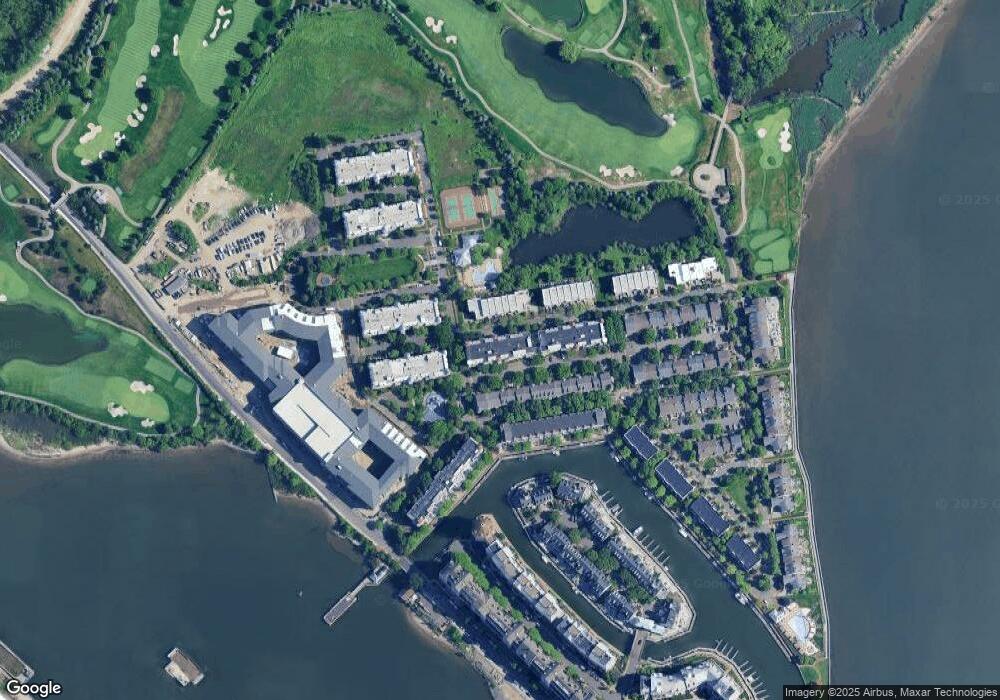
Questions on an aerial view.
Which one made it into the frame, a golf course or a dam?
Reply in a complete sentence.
Of the two, only a golf course appears.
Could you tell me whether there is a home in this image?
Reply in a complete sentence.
Yes, the photo shows a home.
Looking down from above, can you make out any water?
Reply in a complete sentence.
Yes, the picture does contain water.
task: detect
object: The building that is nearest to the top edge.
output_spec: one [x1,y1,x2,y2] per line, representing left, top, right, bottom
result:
[334,147,414,186]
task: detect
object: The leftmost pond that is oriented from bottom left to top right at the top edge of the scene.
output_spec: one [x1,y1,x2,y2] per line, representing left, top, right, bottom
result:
[745,18,863,104]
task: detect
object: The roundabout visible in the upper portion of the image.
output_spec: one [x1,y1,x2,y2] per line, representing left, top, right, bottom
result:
[691,163,729,195]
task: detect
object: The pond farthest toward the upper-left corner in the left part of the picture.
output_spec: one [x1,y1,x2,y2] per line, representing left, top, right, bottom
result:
[0,304,108,368]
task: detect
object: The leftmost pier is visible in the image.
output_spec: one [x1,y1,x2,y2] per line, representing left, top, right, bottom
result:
[0,640,34,684]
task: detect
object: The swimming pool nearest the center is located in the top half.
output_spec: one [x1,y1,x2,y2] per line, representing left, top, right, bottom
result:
[460,258,502,288]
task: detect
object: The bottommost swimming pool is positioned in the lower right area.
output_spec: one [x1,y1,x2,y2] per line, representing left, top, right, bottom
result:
[781,602,820,655]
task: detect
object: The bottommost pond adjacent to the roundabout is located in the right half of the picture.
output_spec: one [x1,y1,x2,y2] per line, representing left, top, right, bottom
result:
[511,198,699,265]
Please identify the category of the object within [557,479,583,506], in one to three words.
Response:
house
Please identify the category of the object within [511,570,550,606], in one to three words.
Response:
building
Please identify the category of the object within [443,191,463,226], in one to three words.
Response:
tennis court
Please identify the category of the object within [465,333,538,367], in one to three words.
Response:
building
